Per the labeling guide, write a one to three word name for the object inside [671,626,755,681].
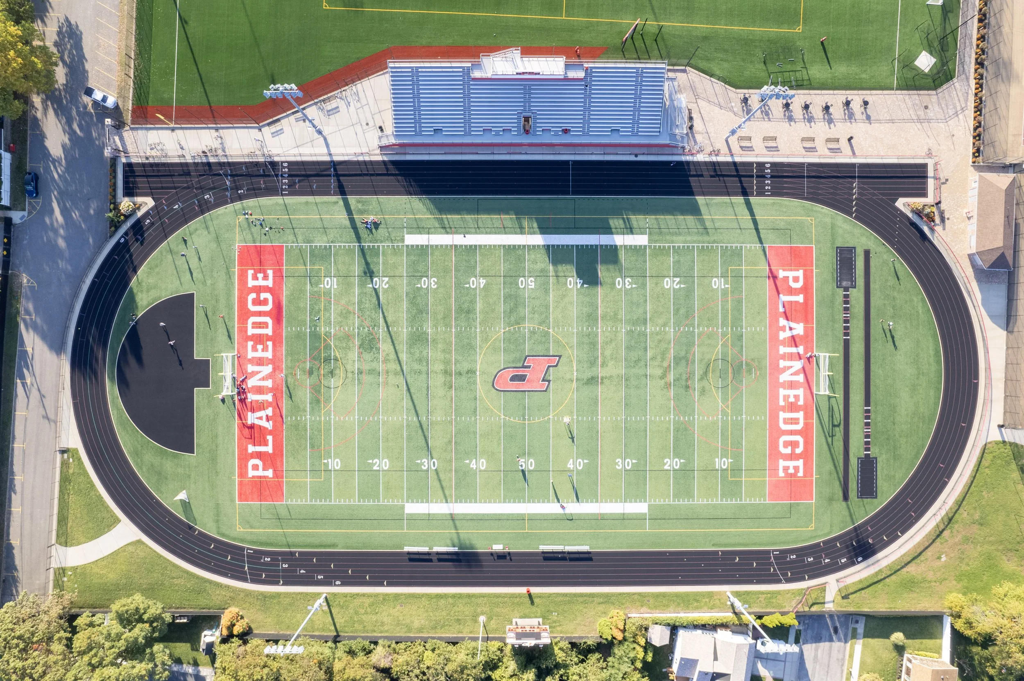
house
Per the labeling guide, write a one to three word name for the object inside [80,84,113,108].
truck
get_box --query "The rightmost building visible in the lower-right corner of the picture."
[898,651,958,681]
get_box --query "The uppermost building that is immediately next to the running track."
[966,173,1016,270]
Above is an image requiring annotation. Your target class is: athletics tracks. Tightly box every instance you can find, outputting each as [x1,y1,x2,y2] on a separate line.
[71,160,979,587]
